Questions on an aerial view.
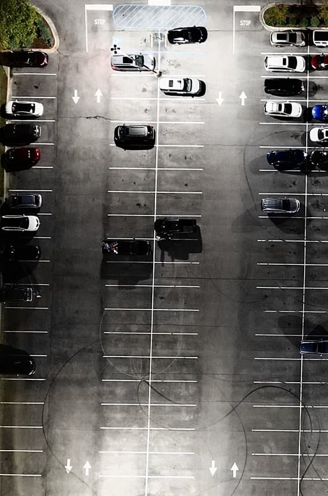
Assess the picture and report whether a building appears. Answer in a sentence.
No, no building is visible in the view.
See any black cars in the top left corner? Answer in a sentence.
Yes, looking in the top left corner, one can make out a black car.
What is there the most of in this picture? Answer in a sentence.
The bulk of the photo consists of paved ground.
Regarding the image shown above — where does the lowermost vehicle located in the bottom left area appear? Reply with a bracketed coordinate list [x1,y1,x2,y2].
[0,354,39,373]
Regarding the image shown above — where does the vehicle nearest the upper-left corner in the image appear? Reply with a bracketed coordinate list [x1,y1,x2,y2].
[3,48,51,69]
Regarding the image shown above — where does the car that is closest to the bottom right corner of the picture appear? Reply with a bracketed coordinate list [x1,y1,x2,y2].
[300,337,328,355]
